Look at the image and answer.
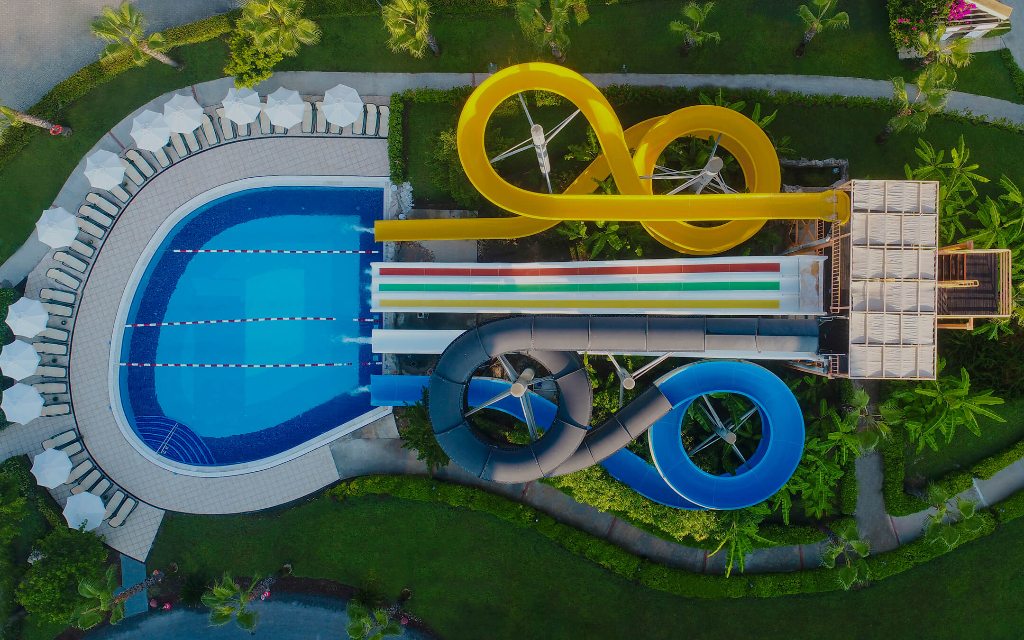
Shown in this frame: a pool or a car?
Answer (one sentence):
The one in the frame is a pool.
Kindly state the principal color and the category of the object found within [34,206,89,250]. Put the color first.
white umbrella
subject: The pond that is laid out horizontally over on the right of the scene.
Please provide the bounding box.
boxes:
[777,158,848,192]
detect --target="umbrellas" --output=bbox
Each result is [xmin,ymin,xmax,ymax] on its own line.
[0,338,55,381]
[221,85,261,125]
[263,86,306,128]
[2,384,57,425]
[130,111,171,151]
[83,148,132,191]
[321,85,362,126]
[162,91,203,134]
[34,206,89,250]
[31,447,85,490]
[62,489,112,529]
[7,296,61,336]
